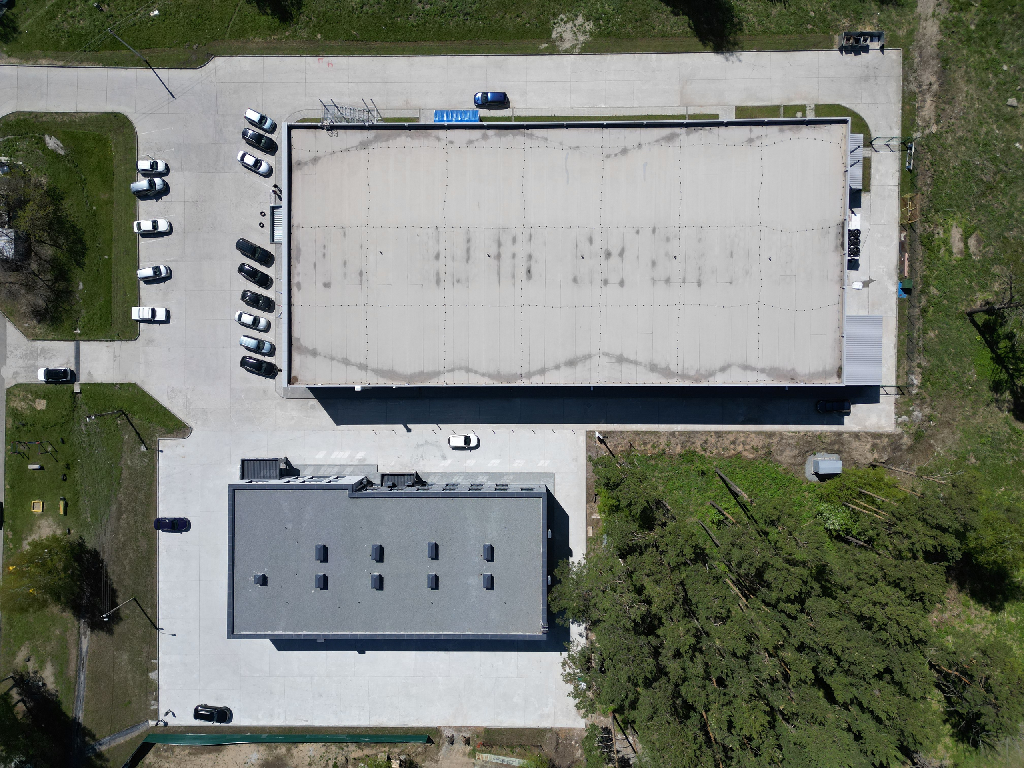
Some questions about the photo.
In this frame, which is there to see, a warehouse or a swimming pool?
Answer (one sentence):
Visible in the photo is a warehouse.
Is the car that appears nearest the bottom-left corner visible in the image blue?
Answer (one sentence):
No, from above the car that appears nearest the bottom-left corner looks black.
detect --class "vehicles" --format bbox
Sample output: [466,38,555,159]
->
[233,310,271,331]
[814,397,854,415]
[126,175,169,198]
[152,515,191,533]
[234,262,273,288]
[474,88,508,107]
[134,157,169,175]
[191,703,232,727]
[237,355,280,378]
[235,150,273,177]
[36,365,72,383]
[237,335,275,355]
[238,127,279,153]
[231,237,273,264]
[132,216,172,235]
[134,263,172,282]
[241,106,278,133]
[237,289,275,311]
[131,306,169,322]
[446,432,479,449]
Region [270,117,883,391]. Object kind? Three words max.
warehouse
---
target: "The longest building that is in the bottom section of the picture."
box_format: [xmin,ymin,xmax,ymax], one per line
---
[228,476,551,642]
